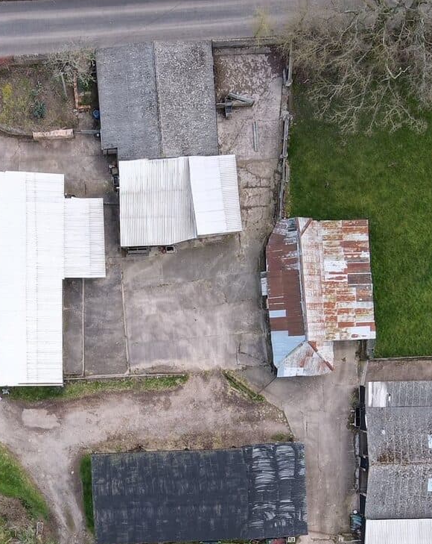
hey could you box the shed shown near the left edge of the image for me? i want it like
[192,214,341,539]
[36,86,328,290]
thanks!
[0,171,106,387]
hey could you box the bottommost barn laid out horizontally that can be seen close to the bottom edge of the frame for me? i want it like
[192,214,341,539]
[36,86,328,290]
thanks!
[91,443,309,544]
